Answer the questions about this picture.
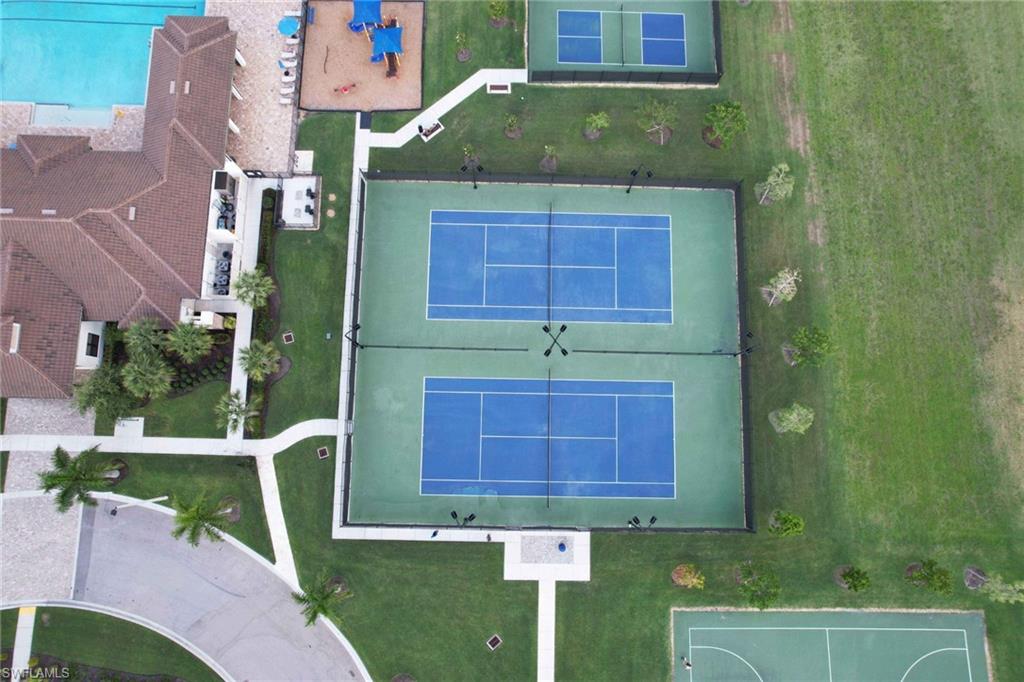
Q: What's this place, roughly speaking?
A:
sports ground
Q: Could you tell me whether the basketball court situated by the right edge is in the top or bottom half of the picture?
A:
bottom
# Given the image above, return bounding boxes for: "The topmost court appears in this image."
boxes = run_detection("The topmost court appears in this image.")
[526,0,717,84]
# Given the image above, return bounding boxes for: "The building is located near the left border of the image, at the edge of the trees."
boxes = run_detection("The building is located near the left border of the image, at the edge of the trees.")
[0,14,247,399]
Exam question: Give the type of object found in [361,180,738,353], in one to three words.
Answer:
tennis court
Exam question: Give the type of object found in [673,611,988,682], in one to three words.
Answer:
basketball court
